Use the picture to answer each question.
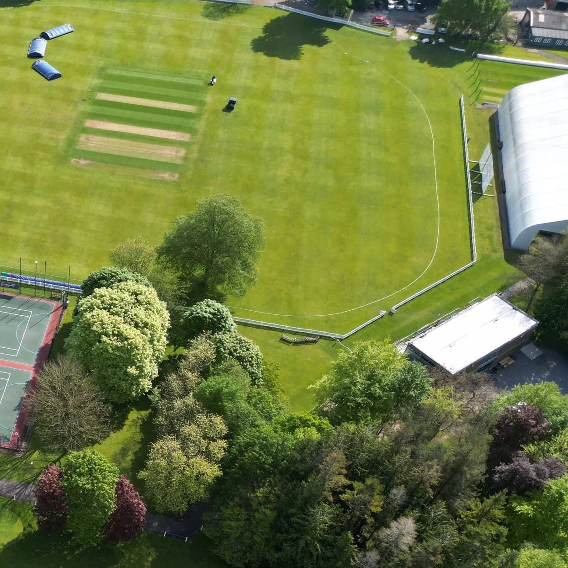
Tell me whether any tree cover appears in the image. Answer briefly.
Yes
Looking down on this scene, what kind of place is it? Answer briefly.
sports ground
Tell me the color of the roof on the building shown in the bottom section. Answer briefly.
white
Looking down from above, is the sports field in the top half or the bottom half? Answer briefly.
top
